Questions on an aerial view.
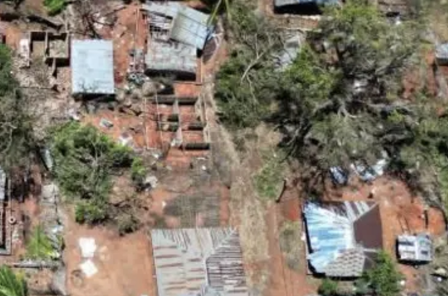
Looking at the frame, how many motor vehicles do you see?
0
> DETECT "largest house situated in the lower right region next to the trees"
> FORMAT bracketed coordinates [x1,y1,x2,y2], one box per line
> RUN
[299,200,382,278]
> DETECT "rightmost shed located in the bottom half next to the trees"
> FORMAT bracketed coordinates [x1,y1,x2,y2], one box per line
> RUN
[388,236,432,264]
